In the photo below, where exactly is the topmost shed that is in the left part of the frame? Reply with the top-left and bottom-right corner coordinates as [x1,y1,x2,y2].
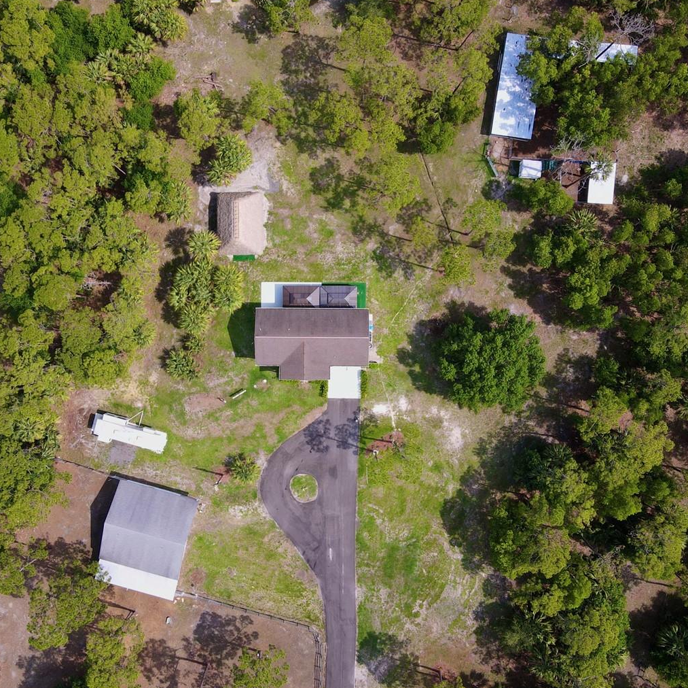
[217,191,269,256]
